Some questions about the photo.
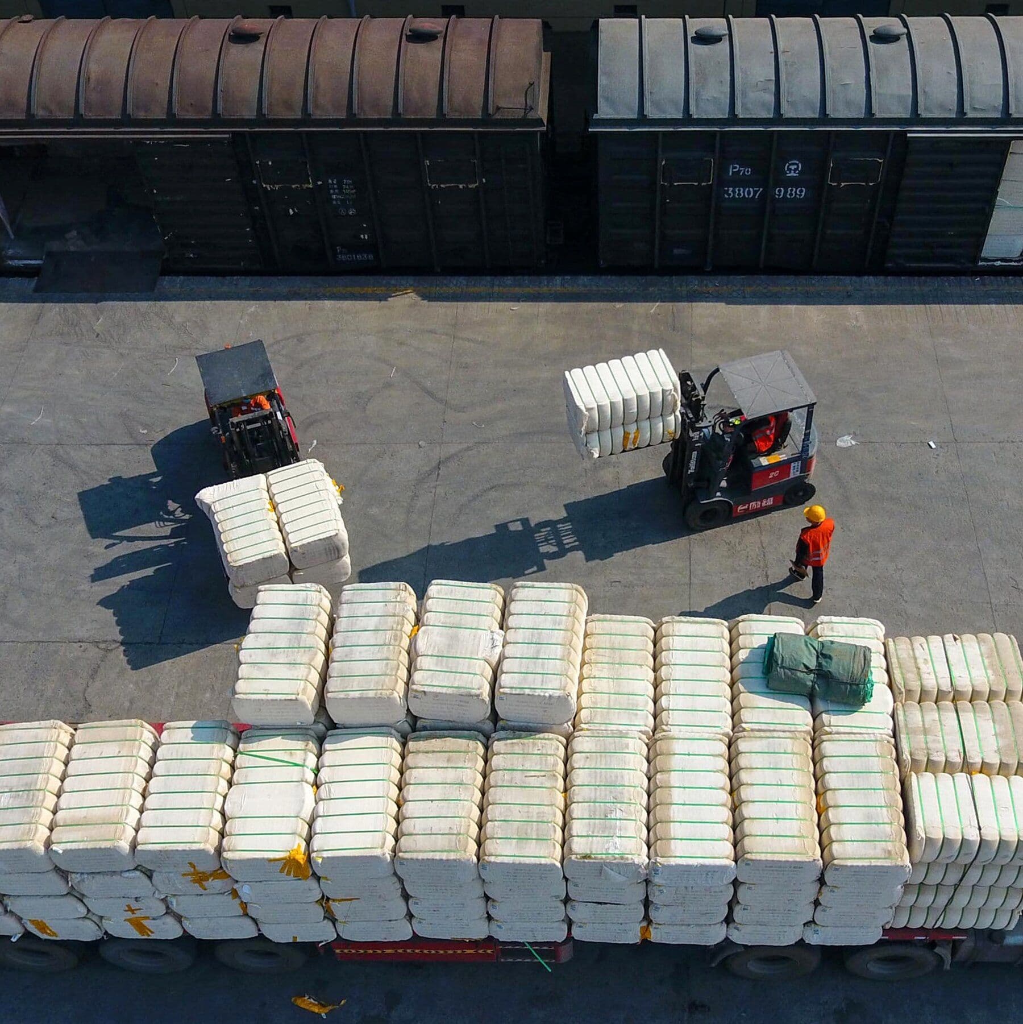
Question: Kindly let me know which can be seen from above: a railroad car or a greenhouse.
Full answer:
There is a railroad car in the scene.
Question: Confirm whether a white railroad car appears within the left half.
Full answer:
No, there is no white railroad car within the left half.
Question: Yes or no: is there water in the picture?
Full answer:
No, the scene doesn't show any water.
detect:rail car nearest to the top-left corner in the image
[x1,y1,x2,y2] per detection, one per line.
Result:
[0,8,597,276]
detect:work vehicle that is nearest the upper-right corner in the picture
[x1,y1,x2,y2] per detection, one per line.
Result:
[661,346,823,530]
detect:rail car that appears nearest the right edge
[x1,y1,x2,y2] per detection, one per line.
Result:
[578,10,1023,276]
